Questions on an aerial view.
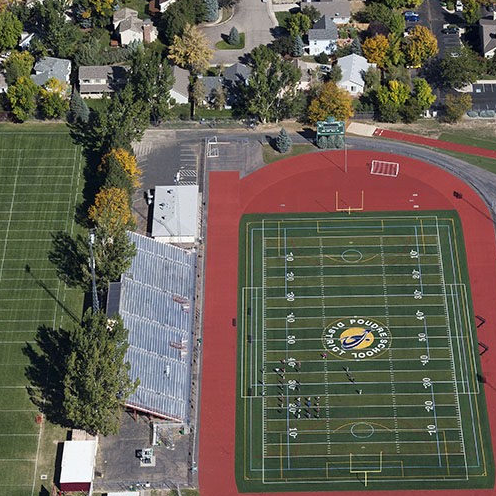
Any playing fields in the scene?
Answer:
Yes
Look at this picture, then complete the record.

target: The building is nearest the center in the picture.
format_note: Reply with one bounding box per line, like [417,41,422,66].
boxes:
[152,186,198,245]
